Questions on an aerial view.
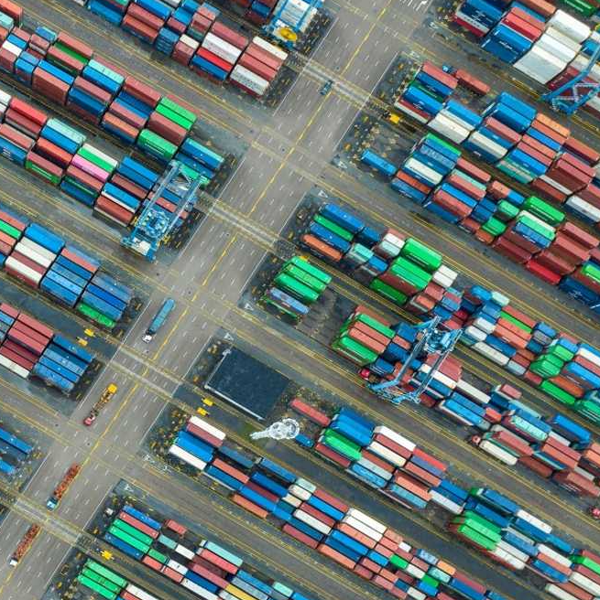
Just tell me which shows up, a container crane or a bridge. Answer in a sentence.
It is a container crane that can be seen here.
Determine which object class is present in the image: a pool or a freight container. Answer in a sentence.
Of the two, only a freight container appears.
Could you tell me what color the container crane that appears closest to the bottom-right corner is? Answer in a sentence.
The container crane that appears closest to the bottom-right corner looks blue in the image.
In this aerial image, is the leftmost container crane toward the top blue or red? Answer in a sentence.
From above, the leftmost container crane toward the top appears blue.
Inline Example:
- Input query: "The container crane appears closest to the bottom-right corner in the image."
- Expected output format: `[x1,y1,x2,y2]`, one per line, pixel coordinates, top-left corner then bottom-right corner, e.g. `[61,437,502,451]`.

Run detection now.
[363,310,467,410]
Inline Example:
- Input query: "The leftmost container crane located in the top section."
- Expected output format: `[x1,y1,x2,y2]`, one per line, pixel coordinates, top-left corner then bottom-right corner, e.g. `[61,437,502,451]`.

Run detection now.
[118,156,204,266]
